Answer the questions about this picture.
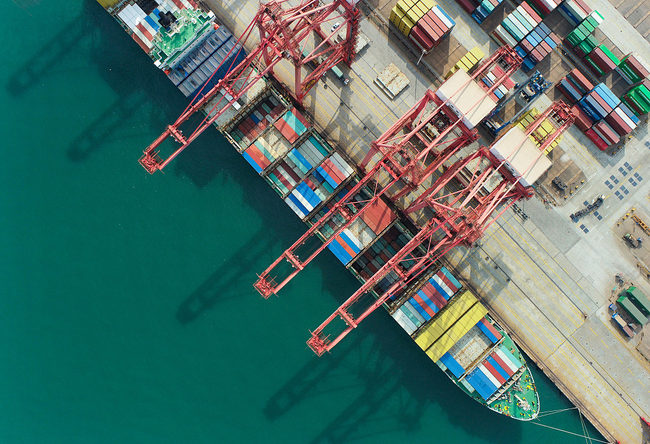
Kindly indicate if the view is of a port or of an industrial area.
port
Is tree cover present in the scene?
No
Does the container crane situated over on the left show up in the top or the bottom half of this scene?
top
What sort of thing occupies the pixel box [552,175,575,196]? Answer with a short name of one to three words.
work vehicle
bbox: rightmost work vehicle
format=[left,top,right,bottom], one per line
[625,233,650,254]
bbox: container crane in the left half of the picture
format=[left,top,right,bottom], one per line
[131,0,363,179]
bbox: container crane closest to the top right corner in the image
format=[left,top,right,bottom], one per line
[479,68,554,137]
